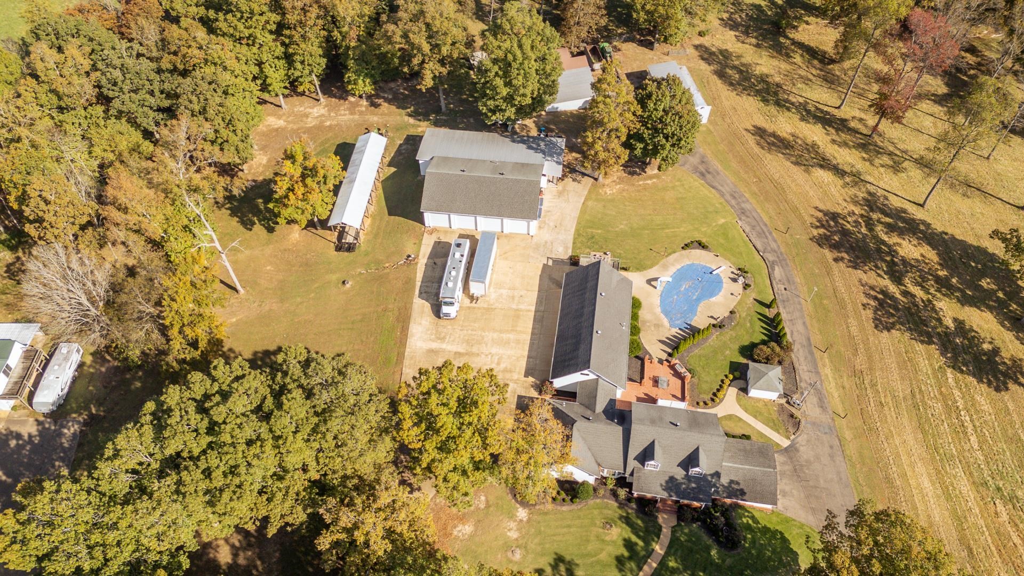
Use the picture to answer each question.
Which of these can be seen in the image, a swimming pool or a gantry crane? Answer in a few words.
swimming pool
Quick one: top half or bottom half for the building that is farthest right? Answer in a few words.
bottom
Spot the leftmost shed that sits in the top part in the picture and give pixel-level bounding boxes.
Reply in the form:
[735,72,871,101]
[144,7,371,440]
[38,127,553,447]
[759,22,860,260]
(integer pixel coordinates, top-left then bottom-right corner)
[328,132,388,241]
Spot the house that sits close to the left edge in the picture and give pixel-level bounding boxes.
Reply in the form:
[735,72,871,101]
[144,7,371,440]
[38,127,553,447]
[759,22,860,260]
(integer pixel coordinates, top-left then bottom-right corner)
[0,325,51,404]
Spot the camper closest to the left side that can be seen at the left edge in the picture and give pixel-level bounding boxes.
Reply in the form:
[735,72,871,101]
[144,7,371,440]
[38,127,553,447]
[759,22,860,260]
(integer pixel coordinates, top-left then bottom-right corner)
[34,344,87,413]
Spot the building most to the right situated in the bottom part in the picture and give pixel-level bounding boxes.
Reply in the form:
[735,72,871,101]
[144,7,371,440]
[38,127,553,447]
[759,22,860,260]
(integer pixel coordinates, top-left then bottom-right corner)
[747,362,783,400]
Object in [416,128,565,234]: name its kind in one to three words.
building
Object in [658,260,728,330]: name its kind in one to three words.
swimming pool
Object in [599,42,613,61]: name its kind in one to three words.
work vehicle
